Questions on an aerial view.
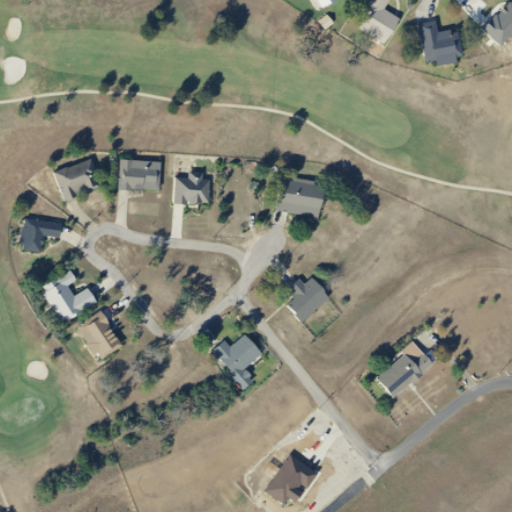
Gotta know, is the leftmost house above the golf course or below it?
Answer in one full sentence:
It's below the golf course that the leftmost house shows up.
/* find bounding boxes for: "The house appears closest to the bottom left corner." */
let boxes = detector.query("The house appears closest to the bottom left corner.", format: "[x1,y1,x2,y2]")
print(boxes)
[81,312,120,358]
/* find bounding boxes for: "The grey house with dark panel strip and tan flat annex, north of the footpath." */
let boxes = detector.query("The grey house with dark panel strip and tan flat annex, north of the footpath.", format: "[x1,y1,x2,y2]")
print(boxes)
[379,342,433,398]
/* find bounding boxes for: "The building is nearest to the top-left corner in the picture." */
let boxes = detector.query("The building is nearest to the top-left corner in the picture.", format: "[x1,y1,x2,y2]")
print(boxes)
[54,160,98,202]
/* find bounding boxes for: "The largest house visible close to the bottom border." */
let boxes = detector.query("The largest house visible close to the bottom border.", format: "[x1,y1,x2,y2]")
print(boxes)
[264,451,321,510]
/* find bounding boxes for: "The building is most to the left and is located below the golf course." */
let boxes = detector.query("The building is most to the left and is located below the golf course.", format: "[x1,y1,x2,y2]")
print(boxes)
[22,218,62,253]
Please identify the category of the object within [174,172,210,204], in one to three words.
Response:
house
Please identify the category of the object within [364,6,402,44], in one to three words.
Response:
house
